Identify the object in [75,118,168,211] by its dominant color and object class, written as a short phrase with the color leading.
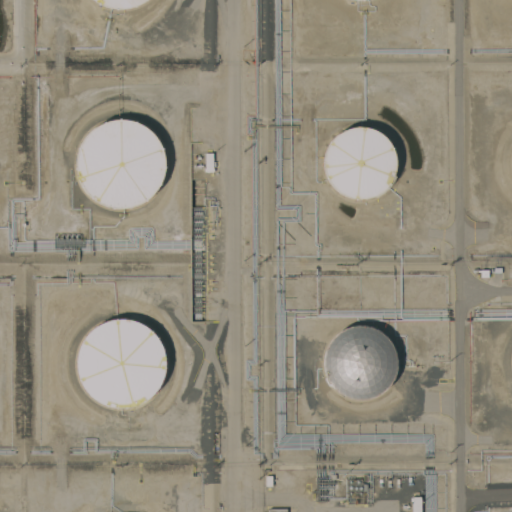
white storage tank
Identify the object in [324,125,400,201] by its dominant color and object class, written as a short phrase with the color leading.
white storage tank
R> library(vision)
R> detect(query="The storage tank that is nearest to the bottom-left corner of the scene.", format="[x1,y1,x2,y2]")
[76,318,168,411]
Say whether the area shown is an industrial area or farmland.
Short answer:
industrial area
